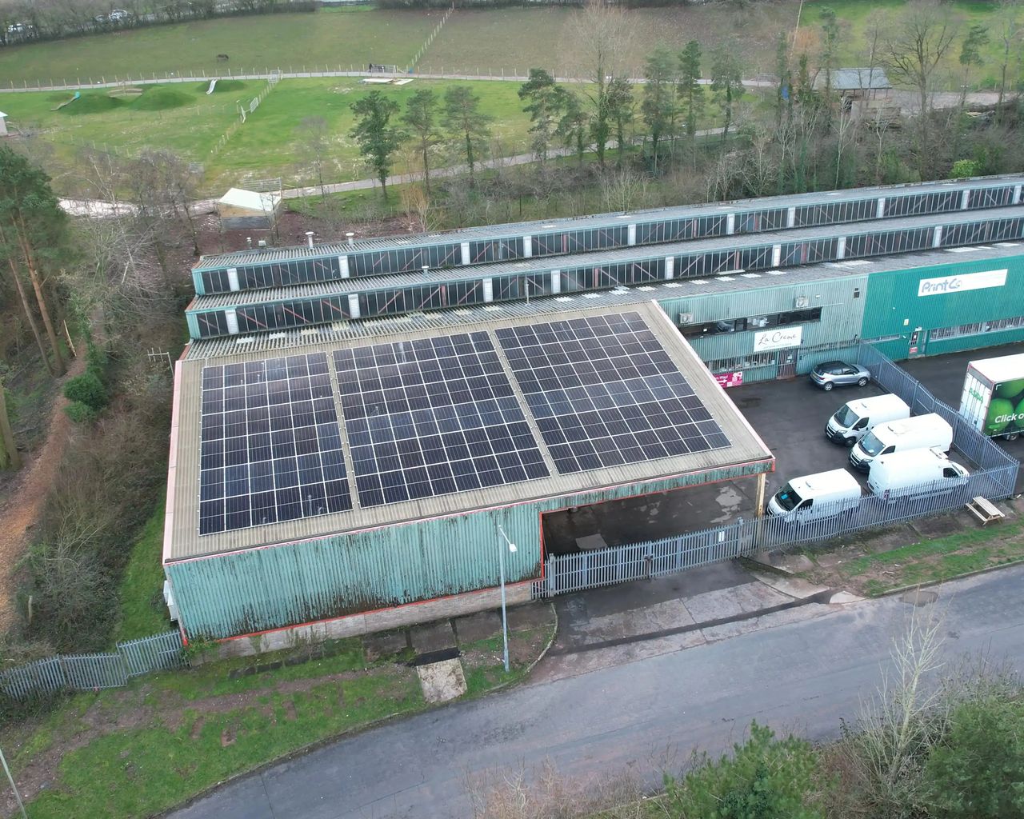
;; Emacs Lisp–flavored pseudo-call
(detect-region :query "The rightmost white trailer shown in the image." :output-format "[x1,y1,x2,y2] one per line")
[953,350,1024,431]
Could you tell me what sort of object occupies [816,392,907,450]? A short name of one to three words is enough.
van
